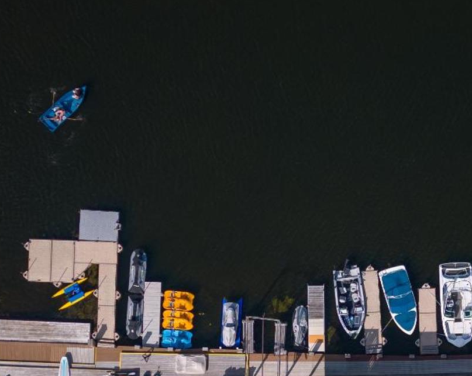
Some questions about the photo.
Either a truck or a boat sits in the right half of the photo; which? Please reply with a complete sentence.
Visible in the right half of the photo is a boat.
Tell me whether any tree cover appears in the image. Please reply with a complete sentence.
No, no tree cover is visible.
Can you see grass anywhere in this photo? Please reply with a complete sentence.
No, the scene doesn't show any grass.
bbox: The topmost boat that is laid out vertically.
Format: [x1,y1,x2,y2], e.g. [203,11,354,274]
[130,249,146,294]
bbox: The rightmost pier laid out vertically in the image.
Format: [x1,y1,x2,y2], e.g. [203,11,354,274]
[413,280,445,354]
